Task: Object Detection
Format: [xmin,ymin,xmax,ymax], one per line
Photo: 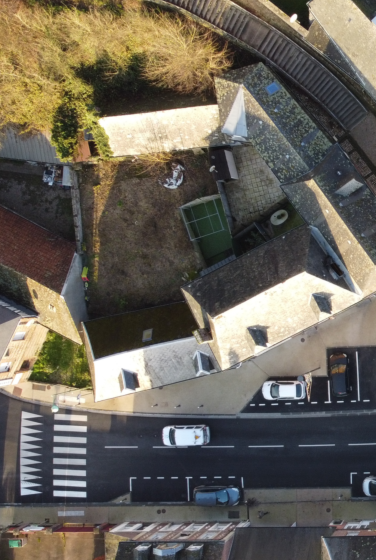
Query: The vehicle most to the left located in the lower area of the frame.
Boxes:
[163,424,214,447]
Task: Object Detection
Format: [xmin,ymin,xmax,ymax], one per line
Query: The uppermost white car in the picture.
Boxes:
[262,380,307,402]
